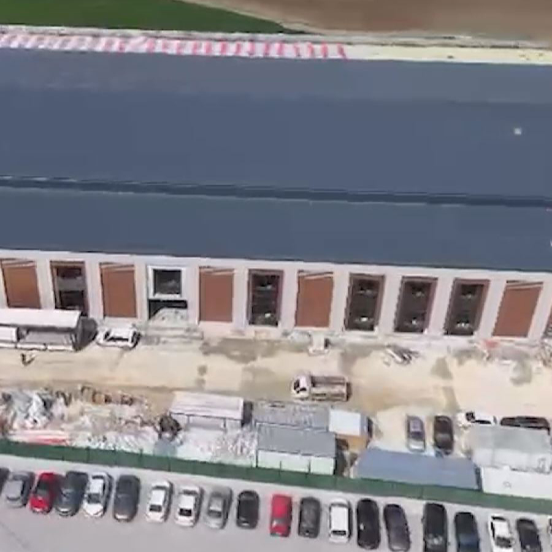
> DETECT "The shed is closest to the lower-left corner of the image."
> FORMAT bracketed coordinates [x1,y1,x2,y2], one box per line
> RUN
[170,392,243,439]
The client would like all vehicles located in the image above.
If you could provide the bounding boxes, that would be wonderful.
[353,496,383,552]
[267,489,293,543]
[504,412,552,436]
[417,499,453,552]
[109,471,143,524]
[28,469,63,515]
[383,501,412,552]
[297,496,322,543]
[485,511,519,552]
[1,467,37,513]
[202,481,231,534]
[404,412,429,452]
[430,414,457,454]
[55,469,87,520]
[327,494,354,549]
[174,483,202,529]
[451,508,483,552]
[512,513,546,552]
[451,407,507,430]
[144,480,174,526]
[97,327,140,350]
[82,469,113,520]
[233,486,261,534]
